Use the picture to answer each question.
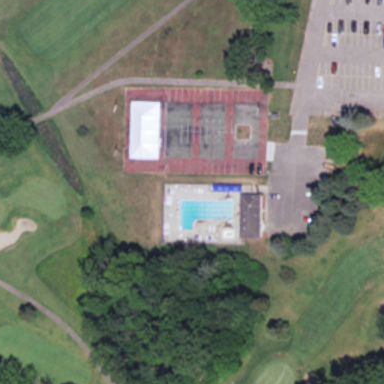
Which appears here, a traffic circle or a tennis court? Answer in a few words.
tennis court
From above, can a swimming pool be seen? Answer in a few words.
Yes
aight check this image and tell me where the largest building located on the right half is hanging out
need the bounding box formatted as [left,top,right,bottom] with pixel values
[240,194,263,238]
